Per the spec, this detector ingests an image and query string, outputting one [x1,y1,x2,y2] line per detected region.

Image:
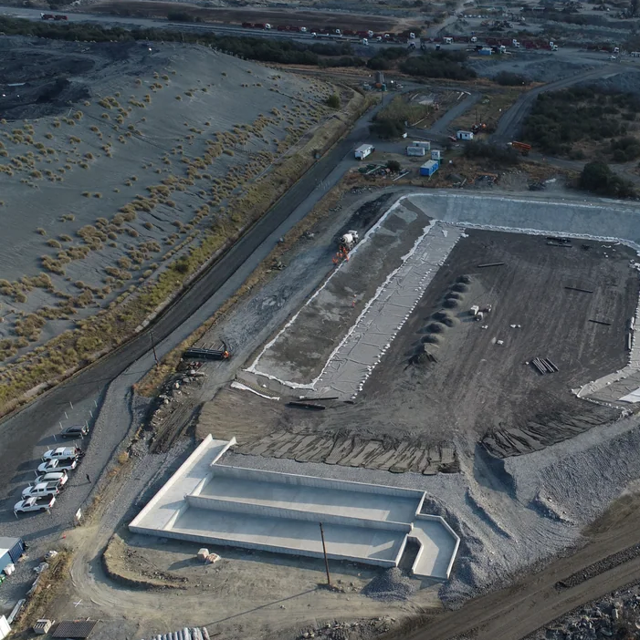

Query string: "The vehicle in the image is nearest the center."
[337,229,357,250]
